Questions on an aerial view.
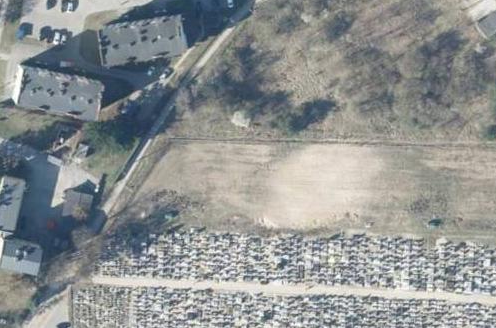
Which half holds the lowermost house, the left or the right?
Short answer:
left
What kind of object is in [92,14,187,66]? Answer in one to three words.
building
